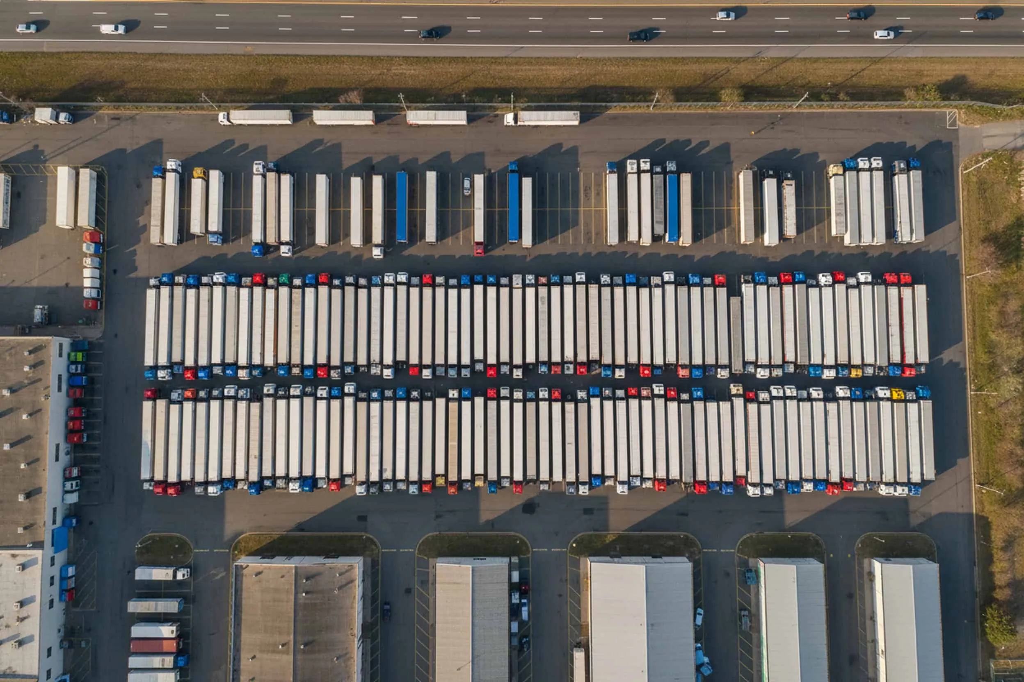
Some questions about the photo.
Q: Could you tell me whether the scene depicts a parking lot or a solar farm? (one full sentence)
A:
The area seen from above is a parking lot.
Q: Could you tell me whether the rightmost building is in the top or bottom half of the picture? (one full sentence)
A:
The bottom half of the photo is where the rightmost building is.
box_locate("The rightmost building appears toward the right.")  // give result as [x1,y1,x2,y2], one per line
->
[872,561,944,682]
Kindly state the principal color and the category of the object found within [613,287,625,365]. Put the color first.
white vehicle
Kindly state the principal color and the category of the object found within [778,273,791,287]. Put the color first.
red vehicle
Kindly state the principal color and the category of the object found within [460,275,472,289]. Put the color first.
blue vehicle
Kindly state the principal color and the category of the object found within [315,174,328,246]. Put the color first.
white vehicle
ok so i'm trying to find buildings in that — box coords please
[0,336,75,682]
[434,559,509,682]
[588,555,694,682]
[756,559,828,682]
[230,555,365,682]
[872,561,944,682]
